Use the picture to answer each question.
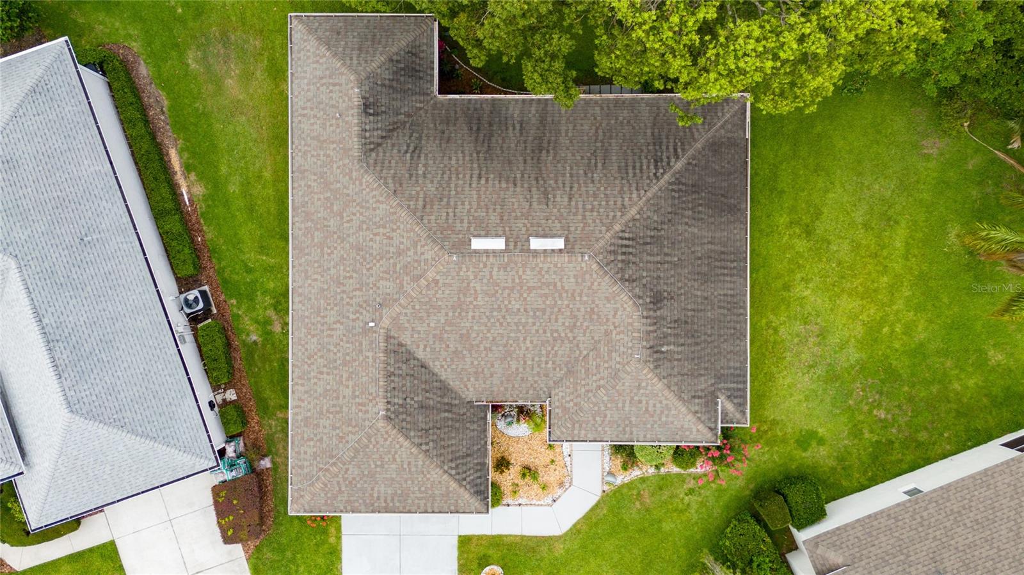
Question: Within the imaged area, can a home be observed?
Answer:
Yes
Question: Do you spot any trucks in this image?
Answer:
No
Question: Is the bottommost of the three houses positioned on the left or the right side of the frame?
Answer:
right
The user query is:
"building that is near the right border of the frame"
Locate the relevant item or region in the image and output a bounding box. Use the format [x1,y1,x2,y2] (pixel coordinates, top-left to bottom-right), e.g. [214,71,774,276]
[789,427,1024,575]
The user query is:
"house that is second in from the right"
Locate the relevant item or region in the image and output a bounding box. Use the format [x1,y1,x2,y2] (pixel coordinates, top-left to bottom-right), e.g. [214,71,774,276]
[289,14,749,514]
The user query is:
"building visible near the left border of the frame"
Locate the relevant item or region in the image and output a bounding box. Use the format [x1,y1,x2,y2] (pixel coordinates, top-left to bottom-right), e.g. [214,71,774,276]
[0,37,239,531]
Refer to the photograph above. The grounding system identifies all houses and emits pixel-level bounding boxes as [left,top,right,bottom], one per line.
[789,427,1024,575]
[289,14,749,514]
[0,37,239,531]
